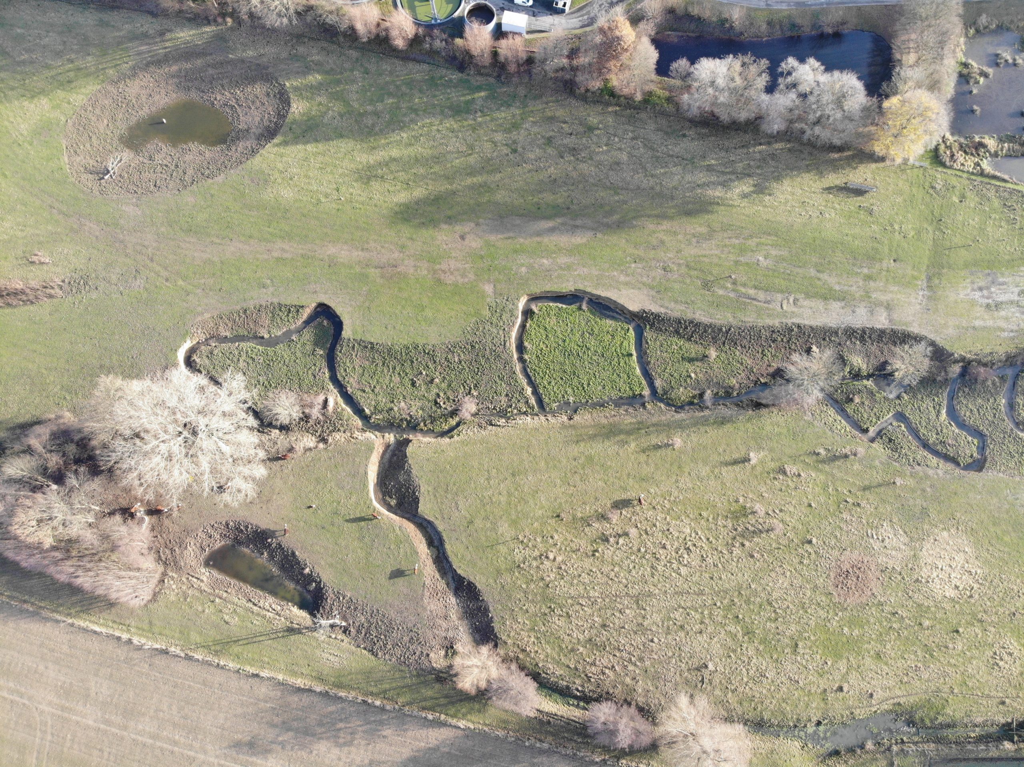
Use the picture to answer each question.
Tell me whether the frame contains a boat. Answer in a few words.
No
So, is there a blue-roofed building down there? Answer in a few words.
No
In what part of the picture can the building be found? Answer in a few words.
top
